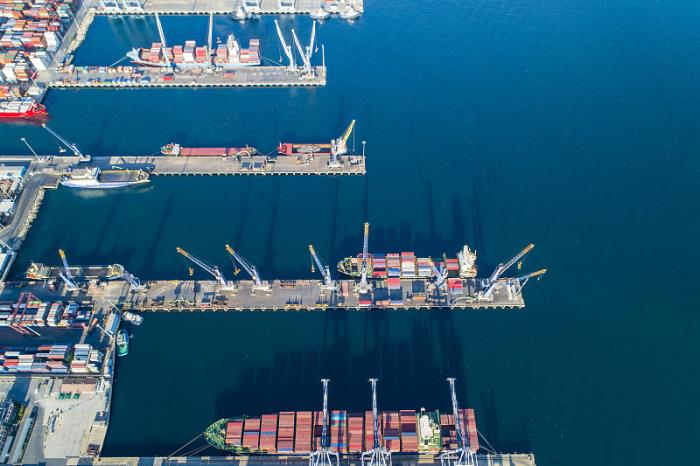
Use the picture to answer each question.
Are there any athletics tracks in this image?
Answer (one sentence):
No, the frame has no athletics track in it.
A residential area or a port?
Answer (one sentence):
The picture captures a port.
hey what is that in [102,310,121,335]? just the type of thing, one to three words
building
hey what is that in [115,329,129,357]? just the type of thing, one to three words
boat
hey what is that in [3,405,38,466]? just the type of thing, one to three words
building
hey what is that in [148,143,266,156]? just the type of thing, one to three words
ship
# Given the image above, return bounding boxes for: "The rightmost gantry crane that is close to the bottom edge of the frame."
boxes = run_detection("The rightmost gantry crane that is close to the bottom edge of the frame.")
[438,379,485,466]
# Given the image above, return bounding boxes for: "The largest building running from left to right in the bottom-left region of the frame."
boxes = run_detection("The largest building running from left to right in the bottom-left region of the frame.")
[53,374,100,392]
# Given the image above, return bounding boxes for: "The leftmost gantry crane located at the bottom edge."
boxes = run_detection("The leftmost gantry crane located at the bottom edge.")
[304,379,344,466]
